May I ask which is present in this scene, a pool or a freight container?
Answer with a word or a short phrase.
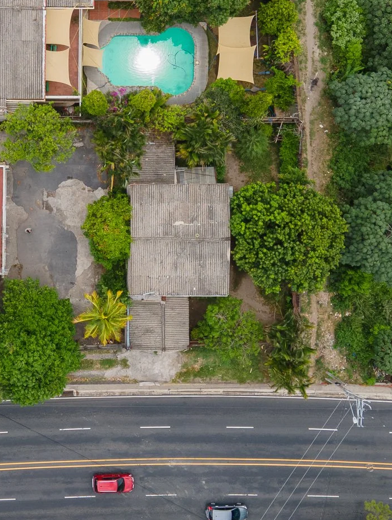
pool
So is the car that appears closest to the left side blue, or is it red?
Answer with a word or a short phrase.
red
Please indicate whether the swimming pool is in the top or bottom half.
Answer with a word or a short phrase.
top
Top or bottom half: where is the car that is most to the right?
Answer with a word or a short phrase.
bottom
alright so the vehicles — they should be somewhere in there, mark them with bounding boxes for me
[206,500,246,520]
[92,471,133,494]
